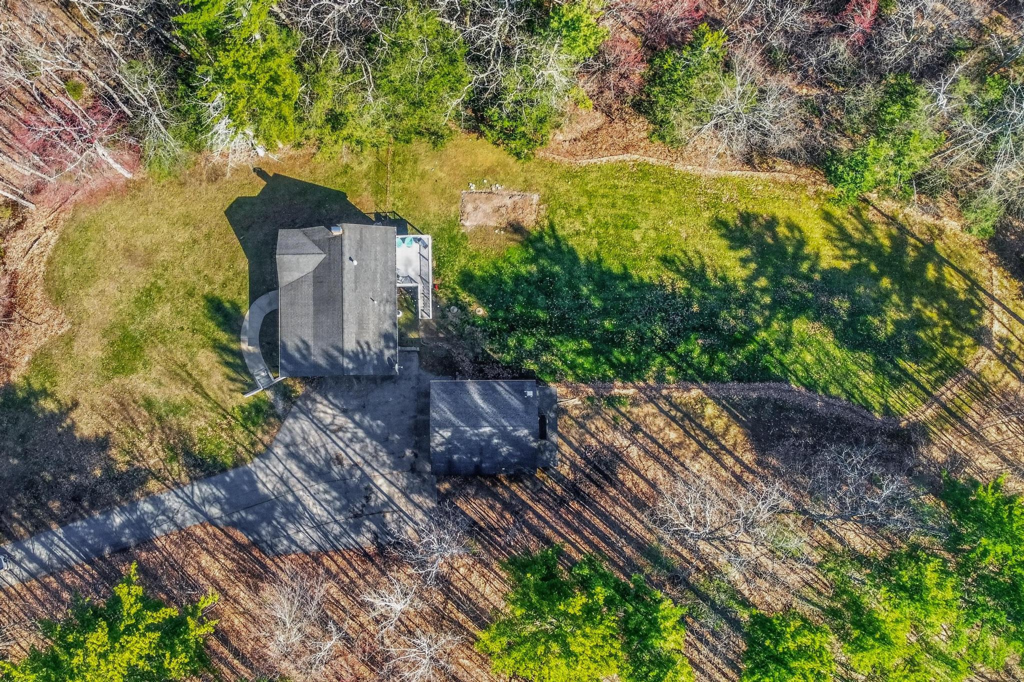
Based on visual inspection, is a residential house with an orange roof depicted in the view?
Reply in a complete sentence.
No, the scene contains no residential house with an orange roof.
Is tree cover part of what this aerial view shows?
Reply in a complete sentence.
Yes, tree cover can be seen from above here.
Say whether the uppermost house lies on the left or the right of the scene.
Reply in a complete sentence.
You can find the uppermost house on the left side of the picture.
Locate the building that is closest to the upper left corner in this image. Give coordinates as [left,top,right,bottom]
[271,220,399,378]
